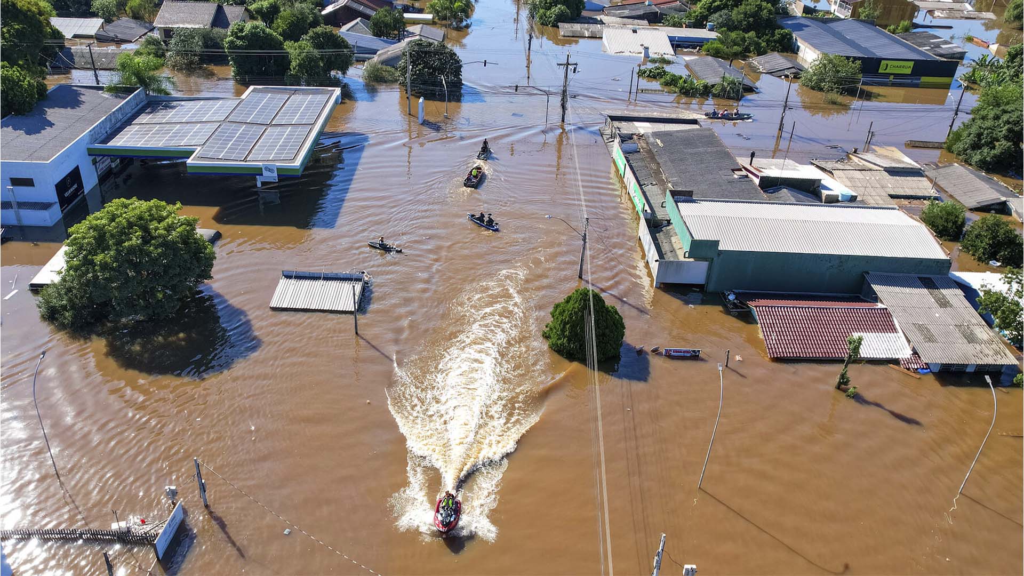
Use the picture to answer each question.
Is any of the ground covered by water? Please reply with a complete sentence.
Yes, there's water in this view.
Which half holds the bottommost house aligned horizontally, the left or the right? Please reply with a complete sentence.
It is on the right.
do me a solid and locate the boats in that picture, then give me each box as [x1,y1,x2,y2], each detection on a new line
[431,491,462,531]
[368,241,402,252]
[705,108,755,120]
[468,213,500,231]
[462,160,487,189]
[472,141,492,160]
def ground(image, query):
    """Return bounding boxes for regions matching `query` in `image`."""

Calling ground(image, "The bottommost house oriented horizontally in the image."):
[740,301,921,363]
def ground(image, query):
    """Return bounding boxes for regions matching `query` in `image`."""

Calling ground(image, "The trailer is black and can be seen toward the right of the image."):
[717,290,754,318]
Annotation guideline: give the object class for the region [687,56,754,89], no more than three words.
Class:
house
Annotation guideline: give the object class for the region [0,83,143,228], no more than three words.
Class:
building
